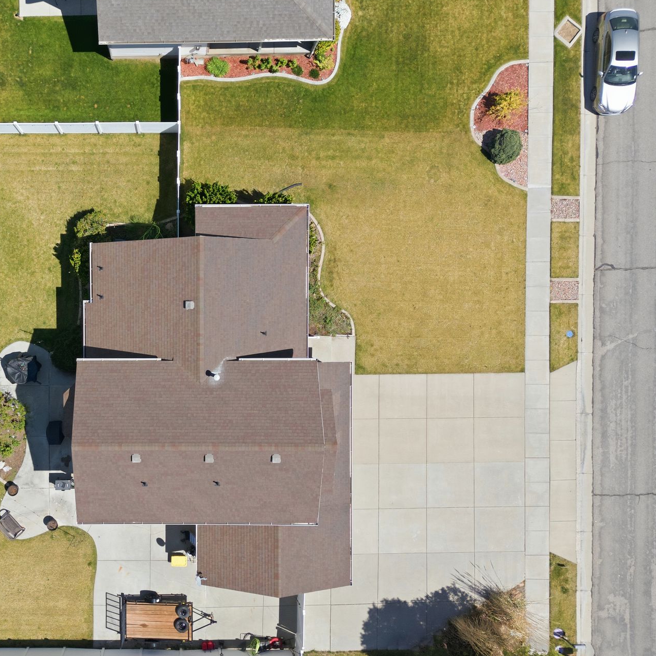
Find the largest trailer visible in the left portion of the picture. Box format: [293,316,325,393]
[122,592,219,648]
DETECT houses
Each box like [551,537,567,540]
[96,0,338,61]
[65,202,355,598]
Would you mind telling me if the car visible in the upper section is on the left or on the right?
right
